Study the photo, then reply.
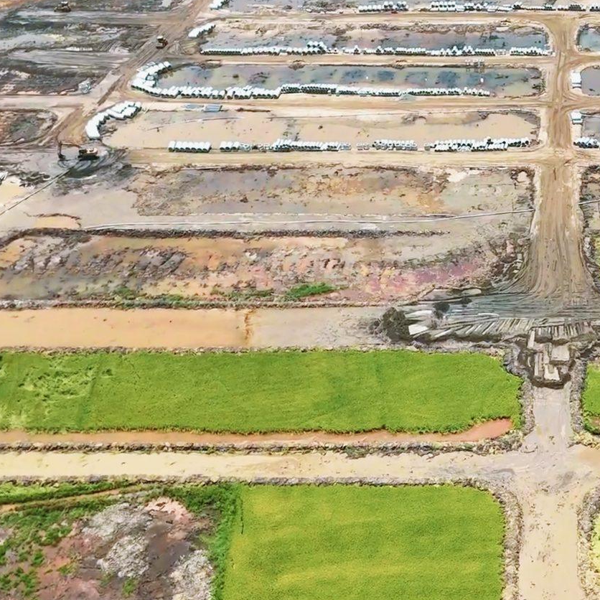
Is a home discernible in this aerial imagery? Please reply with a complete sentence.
No, I can't see a single home in this photo.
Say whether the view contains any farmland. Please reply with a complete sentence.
Yes, there is farmland in the image.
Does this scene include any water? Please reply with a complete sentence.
Yes, water shows up in the scene.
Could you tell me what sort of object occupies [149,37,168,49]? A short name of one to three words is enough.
vehicle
